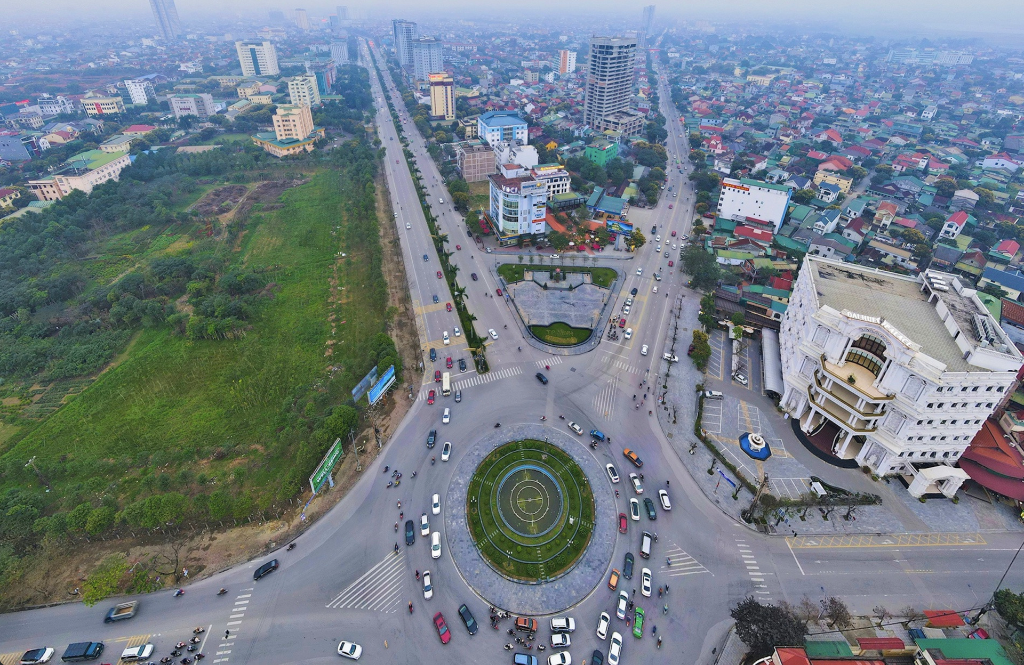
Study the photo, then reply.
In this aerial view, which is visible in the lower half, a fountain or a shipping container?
fountain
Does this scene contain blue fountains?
Yes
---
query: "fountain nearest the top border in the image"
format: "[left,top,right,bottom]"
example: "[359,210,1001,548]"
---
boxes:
[738,435,773,460]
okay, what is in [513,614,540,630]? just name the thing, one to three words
car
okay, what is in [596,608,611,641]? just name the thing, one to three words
car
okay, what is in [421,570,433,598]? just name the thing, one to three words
vehicle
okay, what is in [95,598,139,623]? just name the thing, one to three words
truck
